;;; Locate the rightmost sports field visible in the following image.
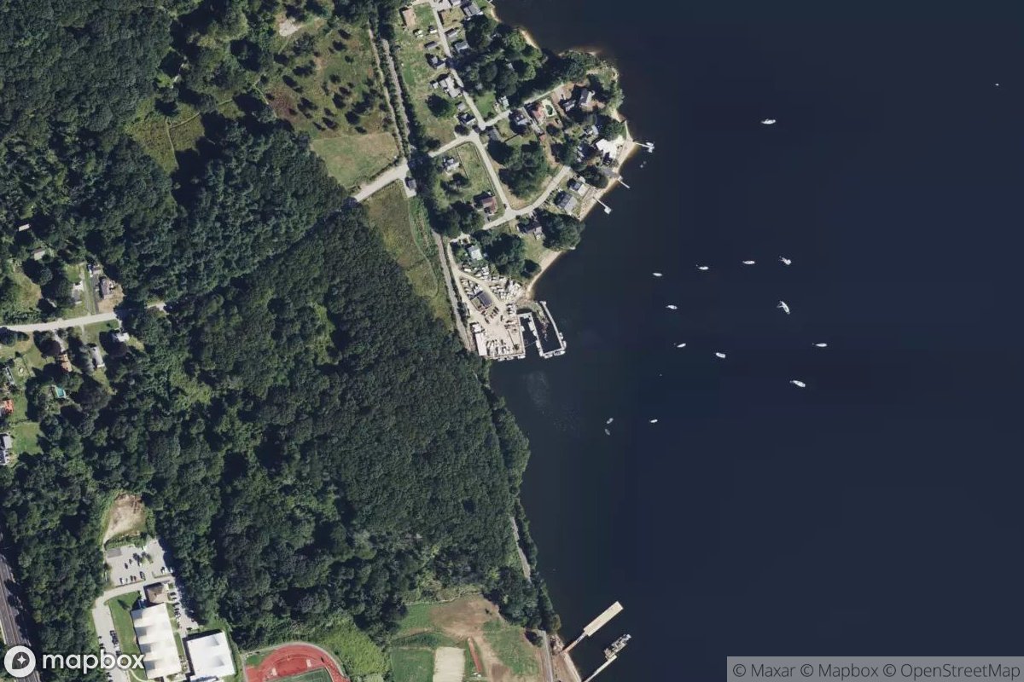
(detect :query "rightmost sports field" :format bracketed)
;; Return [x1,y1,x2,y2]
[392,649,433,682]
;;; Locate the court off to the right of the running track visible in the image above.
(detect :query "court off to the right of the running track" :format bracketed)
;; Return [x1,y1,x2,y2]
[434,647,465,682]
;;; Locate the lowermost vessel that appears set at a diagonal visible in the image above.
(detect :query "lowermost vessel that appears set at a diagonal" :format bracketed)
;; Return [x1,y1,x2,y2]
[605,635,632,660]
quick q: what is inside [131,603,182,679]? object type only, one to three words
building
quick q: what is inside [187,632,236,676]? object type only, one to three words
building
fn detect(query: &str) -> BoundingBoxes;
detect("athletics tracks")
[246,640,345,682]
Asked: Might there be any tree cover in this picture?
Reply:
Yes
